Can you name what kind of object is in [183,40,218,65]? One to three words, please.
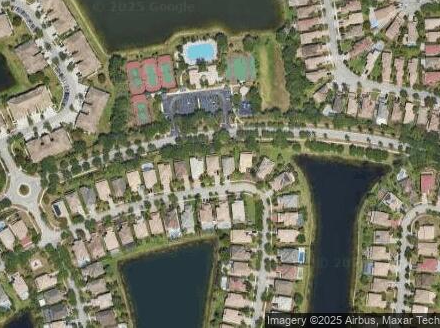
swimming pool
